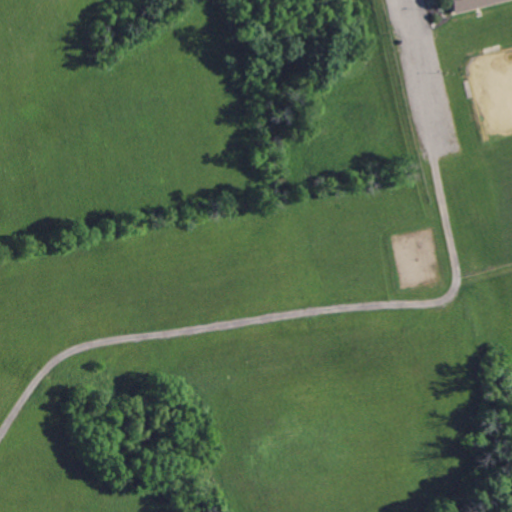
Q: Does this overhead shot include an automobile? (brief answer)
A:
No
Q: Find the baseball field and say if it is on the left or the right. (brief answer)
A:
right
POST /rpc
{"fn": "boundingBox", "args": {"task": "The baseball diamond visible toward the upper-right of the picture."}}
[467,48,512,141]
